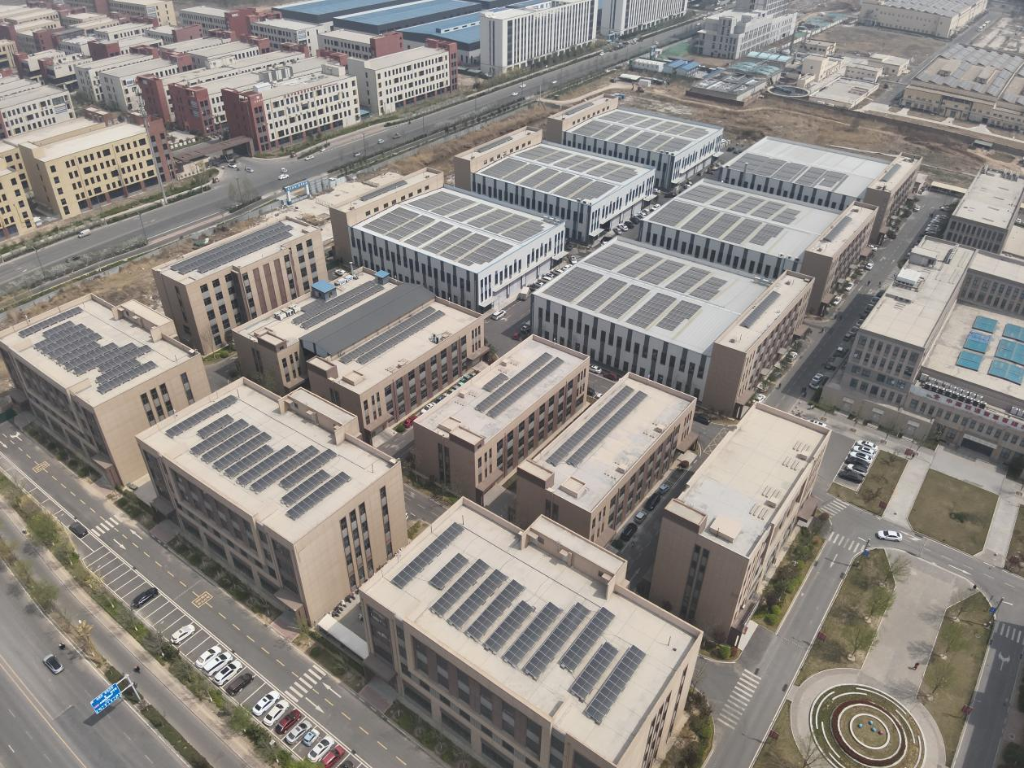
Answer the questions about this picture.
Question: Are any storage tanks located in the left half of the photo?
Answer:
No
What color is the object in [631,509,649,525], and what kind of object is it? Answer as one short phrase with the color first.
gray car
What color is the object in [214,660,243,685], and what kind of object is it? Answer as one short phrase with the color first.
white car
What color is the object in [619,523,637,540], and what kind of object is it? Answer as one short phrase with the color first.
black car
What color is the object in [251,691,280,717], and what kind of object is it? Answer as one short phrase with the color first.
white car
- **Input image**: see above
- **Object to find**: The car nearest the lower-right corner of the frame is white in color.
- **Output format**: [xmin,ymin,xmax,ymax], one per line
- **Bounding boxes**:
[877,528,903,544]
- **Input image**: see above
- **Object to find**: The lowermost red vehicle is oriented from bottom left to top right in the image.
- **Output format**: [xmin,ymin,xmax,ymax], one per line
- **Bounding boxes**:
[317,742,347,768]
